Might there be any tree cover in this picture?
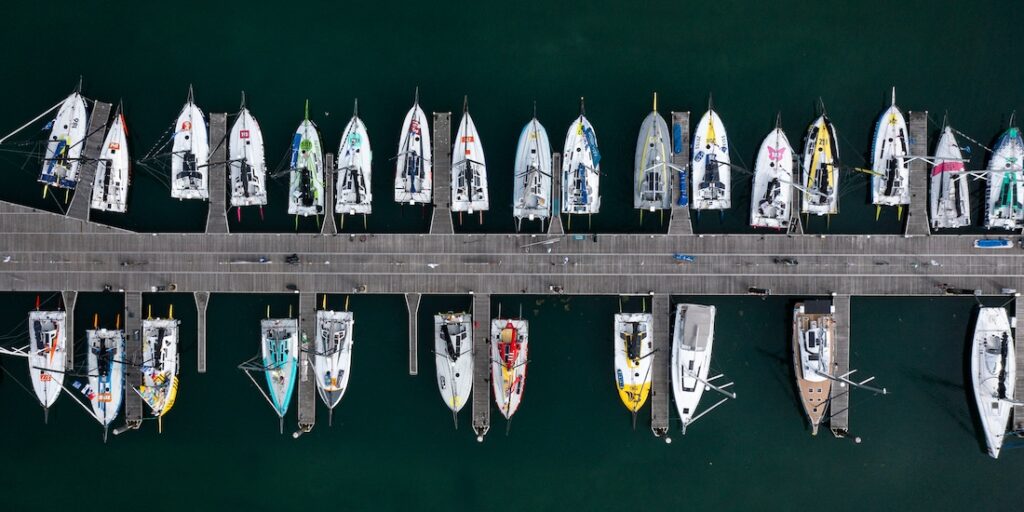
No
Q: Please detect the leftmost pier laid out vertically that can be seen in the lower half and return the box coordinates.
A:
[61,291,80,370]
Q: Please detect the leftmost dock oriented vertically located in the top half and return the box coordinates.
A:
[66,100,114,220]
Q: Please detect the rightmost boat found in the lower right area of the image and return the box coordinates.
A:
[968,296,1024,459]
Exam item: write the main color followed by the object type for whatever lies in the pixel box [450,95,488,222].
white boat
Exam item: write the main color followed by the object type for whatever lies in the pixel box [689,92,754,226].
white boat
